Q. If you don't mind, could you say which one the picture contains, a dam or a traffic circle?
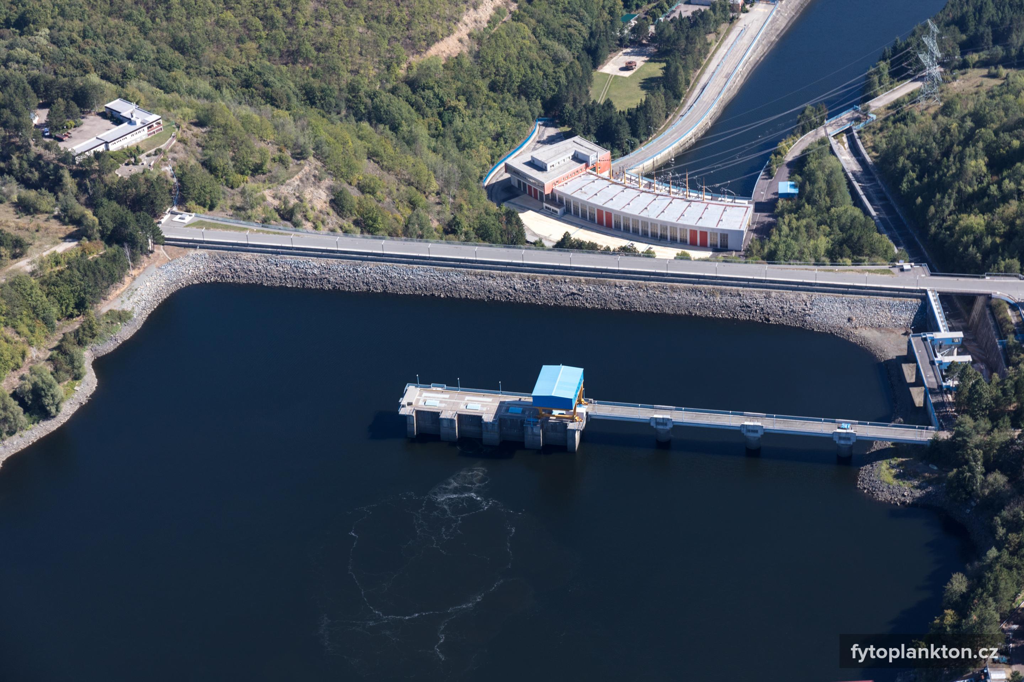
dam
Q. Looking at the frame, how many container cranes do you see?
1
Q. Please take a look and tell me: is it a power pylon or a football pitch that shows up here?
power pylon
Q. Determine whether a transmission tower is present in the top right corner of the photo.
Yes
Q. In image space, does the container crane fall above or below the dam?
below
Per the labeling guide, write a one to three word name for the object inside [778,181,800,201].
shed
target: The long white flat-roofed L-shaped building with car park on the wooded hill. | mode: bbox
[68,98,163,159]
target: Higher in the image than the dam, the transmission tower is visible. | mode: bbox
[921,19,947,94]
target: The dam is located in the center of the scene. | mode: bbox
[158,212,930,329]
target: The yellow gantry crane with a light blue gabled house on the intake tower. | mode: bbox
[532,361,589,422]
